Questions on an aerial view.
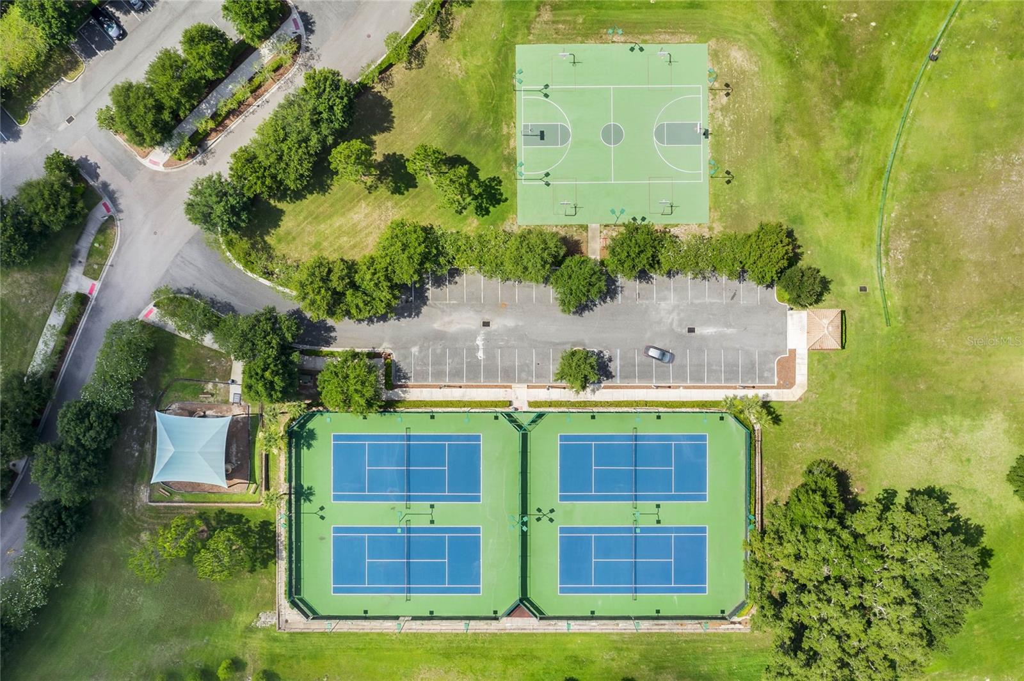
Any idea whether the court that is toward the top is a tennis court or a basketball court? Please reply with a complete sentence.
Specifically, the court that is toward the top is a basketball court.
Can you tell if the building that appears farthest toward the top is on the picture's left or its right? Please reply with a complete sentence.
The building that appears farthest toward the top is on the right side of the image.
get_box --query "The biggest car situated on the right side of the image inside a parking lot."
[644,346,675,363]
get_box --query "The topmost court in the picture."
[516,43,709,225]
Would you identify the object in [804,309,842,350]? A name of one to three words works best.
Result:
building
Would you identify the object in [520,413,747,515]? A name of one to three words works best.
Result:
tennis court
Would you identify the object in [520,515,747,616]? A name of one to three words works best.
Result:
tennis court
